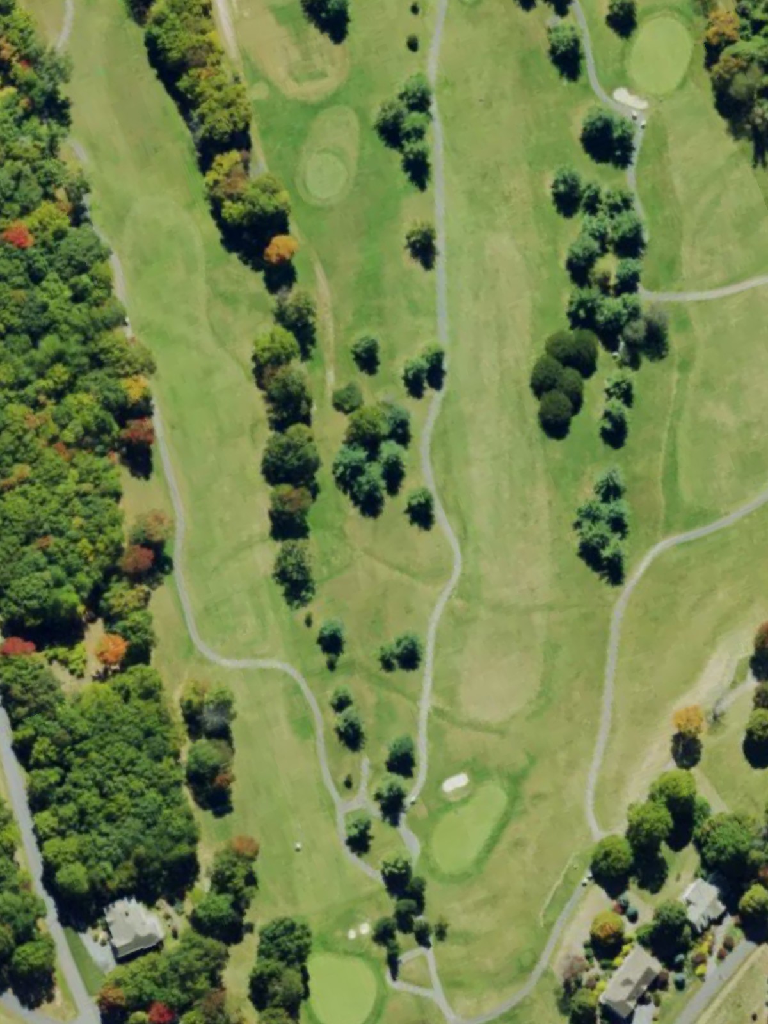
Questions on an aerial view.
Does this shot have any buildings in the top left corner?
No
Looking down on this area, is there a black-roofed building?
No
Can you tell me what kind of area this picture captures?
golf course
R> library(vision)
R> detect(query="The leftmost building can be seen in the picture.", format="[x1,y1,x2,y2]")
[104,894,165,955]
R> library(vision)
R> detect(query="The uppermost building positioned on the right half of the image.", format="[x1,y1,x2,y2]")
[679,879,733,932]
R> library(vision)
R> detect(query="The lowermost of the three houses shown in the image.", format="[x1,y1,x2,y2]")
[598,946,664,1018]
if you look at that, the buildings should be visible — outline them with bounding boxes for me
[598,946,664,1018]
[104,894,165,955]
[679,879,733,932]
